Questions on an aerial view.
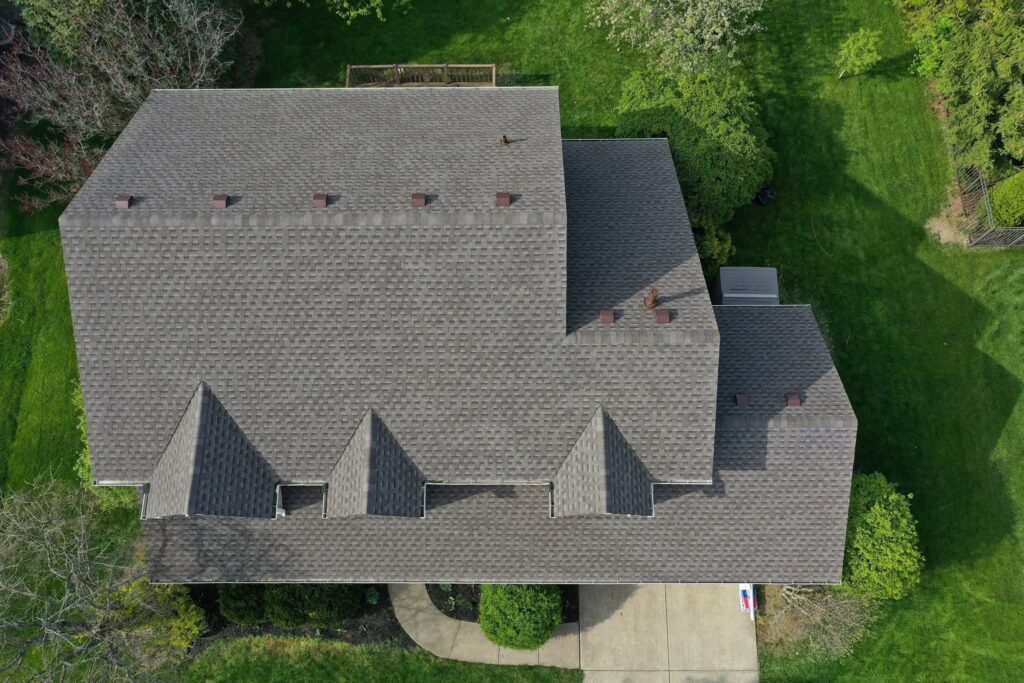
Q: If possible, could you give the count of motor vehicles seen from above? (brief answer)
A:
0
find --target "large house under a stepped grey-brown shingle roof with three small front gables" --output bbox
[59,87,857,584]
